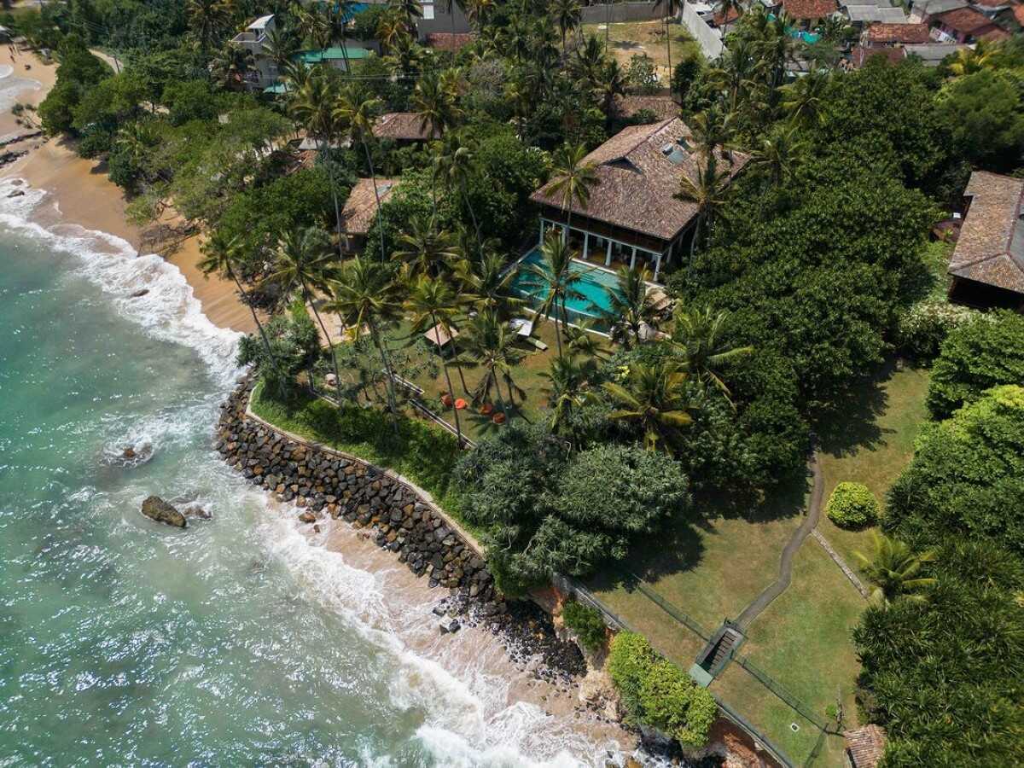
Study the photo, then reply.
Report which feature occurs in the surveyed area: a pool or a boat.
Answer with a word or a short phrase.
pool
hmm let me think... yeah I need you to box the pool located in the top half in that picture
[495,245,656,340]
